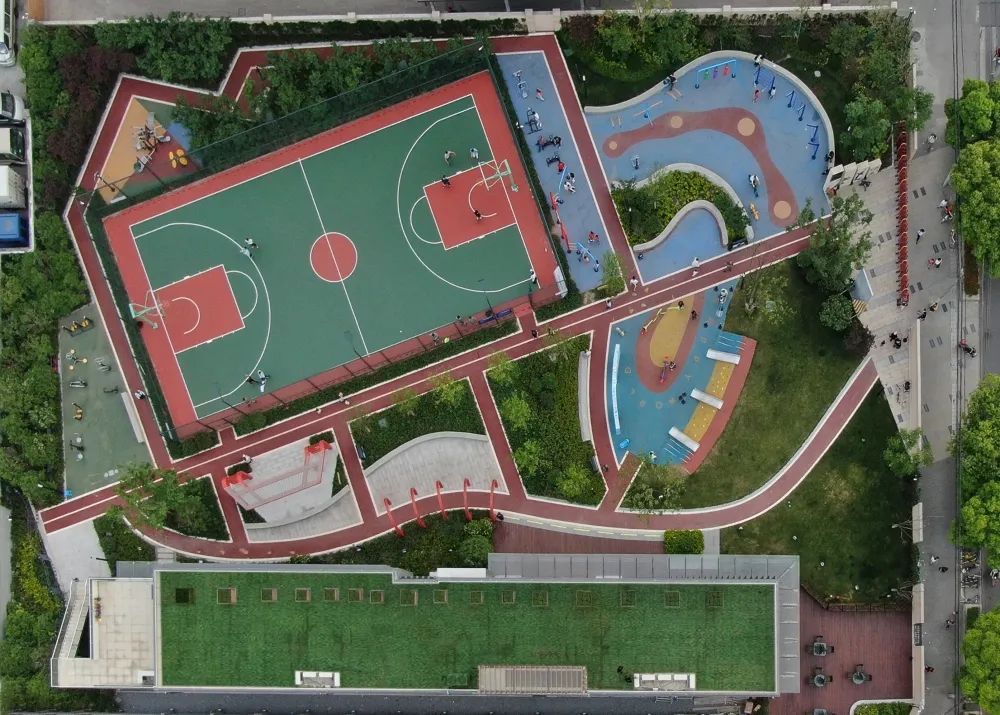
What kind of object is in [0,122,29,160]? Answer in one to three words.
truck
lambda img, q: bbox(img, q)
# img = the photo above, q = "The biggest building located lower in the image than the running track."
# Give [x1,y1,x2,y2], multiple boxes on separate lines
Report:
[53,554,801,701]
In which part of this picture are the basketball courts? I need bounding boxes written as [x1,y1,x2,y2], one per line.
[104,71,565,442]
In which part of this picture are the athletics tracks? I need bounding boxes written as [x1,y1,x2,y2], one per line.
[36,32,880,563]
